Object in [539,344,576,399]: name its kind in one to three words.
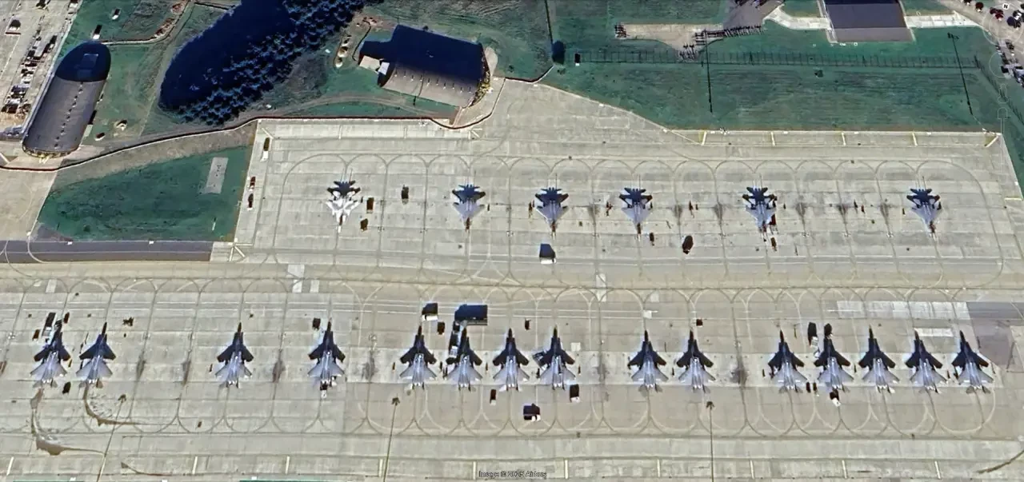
airplane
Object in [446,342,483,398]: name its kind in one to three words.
airplane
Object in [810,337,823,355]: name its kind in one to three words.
vehicle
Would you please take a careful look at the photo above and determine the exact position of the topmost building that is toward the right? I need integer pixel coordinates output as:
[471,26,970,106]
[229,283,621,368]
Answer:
[829,0,914,43]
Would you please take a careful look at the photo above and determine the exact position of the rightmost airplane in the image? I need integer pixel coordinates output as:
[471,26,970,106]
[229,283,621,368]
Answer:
[958,346,994,402]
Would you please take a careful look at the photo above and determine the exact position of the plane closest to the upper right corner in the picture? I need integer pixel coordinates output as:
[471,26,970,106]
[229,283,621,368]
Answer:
[910,190,944,242]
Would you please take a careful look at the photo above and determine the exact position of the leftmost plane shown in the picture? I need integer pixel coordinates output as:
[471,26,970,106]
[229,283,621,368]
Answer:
[29,336,66,393]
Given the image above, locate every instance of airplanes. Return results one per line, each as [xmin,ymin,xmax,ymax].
[29,336,66,393]
[910,190,944,242]
[680,345,716,400]
[215,340,251,395]
[958,346,994,402]
[308,340,344,395]
[911,346,947,402]
[744,191,777,240]
[75,337,112,393]
[400,341,436,397]
[327,183,360,234]
[771,345,807,401]
[620,192,654,241]
[535,188,569,239]
[863,345,900,401]
[493,343,529,399]
[539,344,576,399]
[452,188,485,237]
[632,344,669,400]
[818,343,855,400]
[446,342,483,398]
